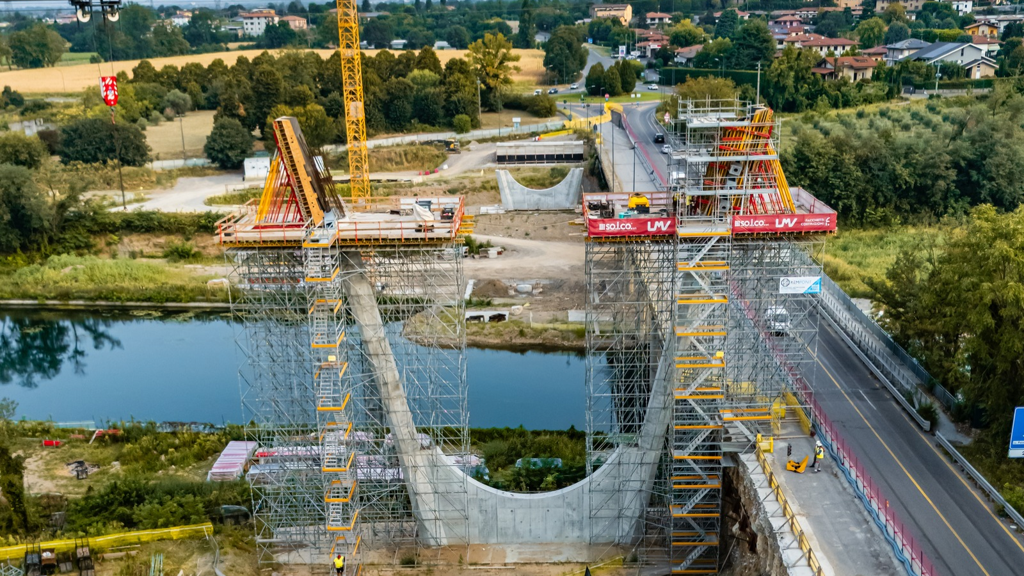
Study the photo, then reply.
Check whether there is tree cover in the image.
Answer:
Yes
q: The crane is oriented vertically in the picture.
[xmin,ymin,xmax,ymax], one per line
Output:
[339,0,394,304]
